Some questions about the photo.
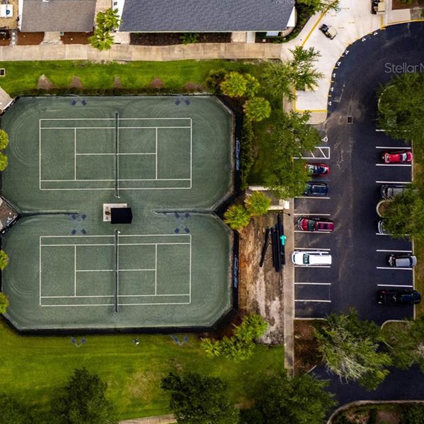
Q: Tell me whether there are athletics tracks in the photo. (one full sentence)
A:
No, I can see no athletics track in this picture.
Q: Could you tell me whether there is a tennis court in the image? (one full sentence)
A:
Yes, you can see a tennis court in this photo.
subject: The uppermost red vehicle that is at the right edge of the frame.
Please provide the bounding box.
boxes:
[384,151,416,165]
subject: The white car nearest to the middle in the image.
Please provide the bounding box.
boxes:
[295,252,335,268]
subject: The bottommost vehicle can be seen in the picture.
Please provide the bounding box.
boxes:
[382,292,423,308]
